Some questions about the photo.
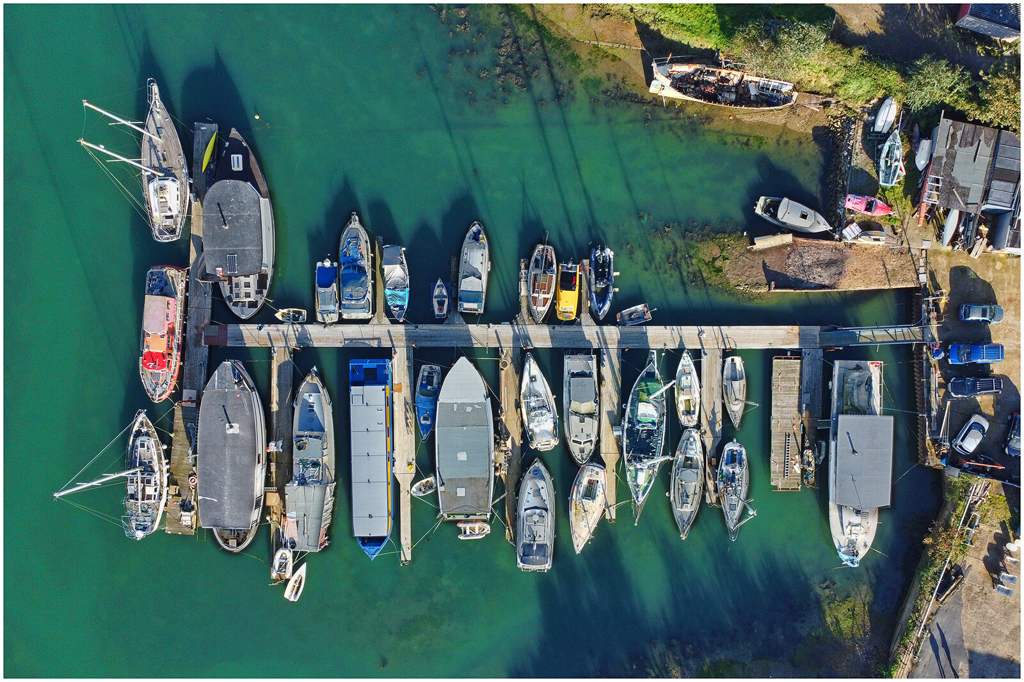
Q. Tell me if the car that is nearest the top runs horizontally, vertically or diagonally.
horizontally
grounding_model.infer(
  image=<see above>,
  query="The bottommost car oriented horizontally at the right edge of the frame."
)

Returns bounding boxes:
[945,374,1003,399]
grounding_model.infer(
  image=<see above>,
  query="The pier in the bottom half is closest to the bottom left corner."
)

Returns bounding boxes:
[166,407,200,533]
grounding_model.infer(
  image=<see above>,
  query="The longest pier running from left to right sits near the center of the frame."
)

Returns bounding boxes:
[227,325,801,348]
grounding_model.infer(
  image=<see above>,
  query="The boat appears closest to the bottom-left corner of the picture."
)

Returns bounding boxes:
[51,407,174,543]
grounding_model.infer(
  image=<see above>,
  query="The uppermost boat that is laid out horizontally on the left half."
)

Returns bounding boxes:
[274,309,307,322]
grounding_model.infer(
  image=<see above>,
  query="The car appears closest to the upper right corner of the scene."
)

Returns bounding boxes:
[955,301,1004,325]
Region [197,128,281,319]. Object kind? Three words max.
boat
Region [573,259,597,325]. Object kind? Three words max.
pier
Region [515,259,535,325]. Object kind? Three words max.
pier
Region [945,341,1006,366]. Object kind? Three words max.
truck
